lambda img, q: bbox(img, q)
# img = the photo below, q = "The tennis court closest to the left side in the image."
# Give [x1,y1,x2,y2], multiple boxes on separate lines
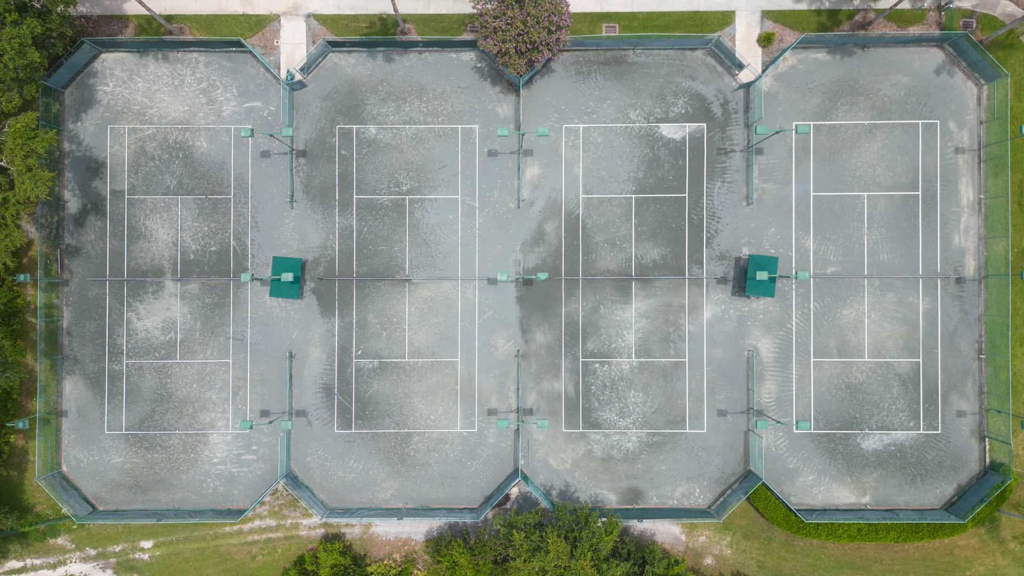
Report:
[62,51,294,510]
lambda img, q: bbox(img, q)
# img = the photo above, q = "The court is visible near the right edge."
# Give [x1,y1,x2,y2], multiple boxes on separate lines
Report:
[748,46,985,510]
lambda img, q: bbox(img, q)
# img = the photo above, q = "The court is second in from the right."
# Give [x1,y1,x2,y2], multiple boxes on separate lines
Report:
[519,49,749,511]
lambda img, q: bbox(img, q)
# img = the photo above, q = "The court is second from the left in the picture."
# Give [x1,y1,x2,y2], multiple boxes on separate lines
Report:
[292,51,520,508]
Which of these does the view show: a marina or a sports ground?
sports ground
